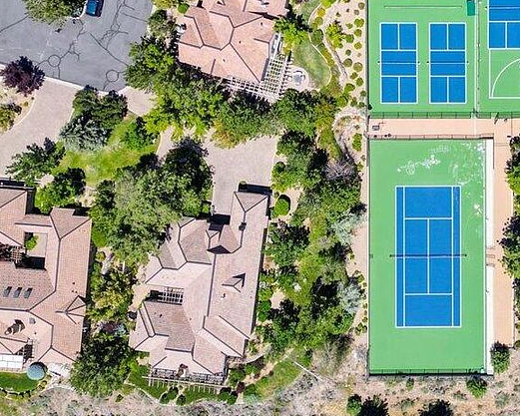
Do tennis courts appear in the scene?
Yes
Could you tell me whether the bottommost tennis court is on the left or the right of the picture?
right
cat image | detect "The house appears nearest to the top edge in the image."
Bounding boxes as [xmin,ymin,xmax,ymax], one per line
[178,0,293,82]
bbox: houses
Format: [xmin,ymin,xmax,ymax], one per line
[178,0,293,82]
[129,190,270,378]
[0,188,97,364]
